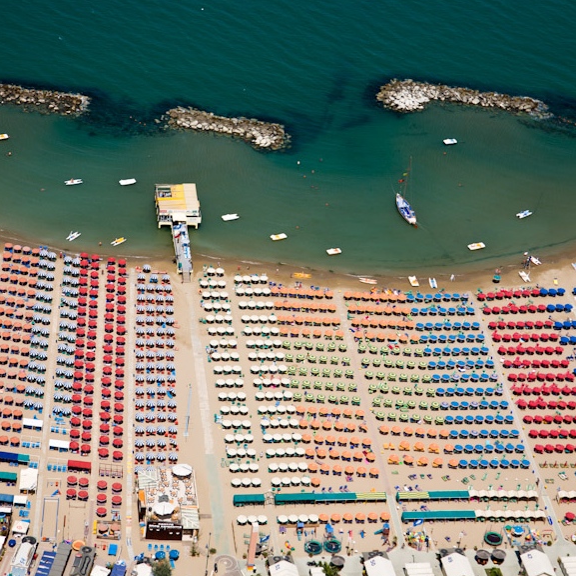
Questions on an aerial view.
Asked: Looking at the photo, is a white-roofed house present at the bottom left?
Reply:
Yes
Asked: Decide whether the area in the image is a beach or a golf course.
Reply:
beach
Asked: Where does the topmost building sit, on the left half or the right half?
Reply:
left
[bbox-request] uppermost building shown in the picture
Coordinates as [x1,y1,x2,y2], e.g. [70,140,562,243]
[155,185,200,230]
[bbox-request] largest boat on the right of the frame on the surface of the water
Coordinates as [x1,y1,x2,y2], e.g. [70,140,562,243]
[395,167,418,227]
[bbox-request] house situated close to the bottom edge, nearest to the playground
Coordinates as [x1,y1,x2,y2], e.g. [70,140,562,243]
[520,551,556,576]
